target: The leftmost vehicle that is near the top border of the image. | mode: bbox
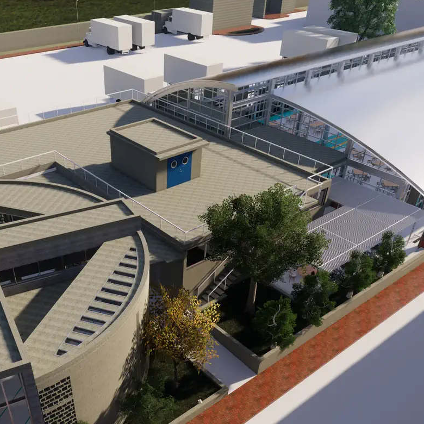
[84,18,131,54]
